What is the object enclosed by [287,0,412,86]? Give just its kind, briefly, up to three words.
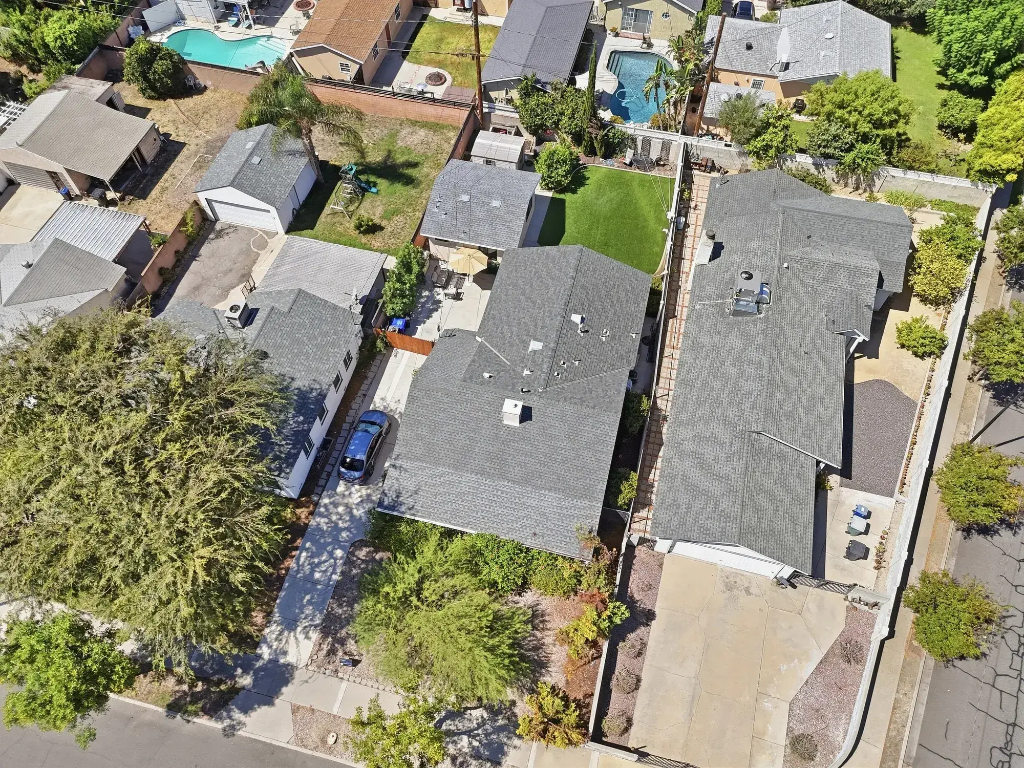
house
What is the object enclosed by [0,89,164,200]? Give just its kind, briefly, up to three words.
building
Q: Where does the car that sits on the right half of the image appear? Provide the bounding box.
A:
[730,0,754,21]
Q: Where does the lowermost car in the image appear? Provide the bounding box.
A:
[335,409,387,484]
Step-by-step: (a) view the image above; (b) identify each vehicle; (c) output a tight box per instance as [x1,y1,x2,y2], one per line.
[730,0,754,21]
[335,409,387,484]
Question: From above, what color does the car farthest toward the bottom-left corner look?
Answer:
blue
